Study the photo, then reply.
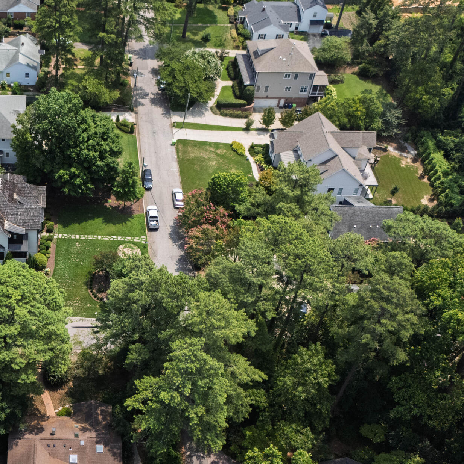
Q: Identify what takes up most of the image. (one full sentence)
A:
Most of the picture is covered by trees.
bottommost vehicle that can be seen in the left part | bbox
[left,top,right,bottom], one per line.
[147,207,161,231]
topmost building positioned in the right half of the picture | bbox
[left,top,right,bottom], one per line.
[233,0,326,39]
